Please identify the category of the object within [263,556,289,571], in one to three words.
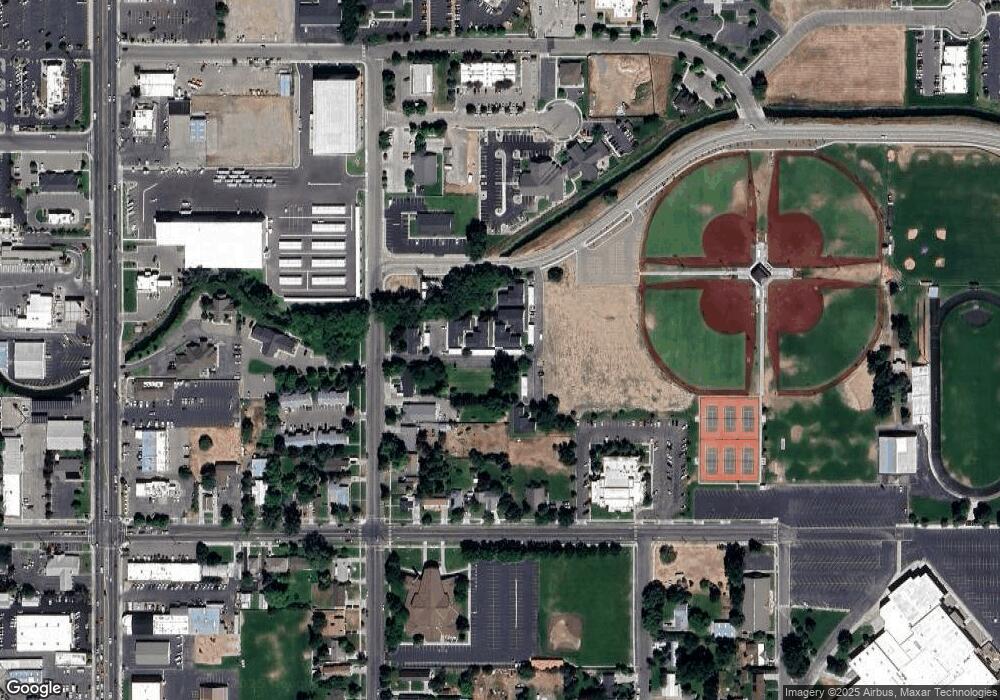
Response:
house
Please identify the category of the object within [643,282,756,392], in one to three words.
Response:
baseball field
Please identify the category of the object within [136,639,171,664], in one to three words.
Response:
building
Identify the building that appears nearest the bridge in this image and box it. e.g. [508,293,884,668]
[670,84,696,109]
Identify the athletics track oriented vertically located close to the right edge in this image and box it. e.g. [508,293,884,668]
[930,288,1000,498]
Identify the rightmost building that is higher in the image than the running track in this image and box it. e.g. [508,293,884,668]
[942,44,968,93]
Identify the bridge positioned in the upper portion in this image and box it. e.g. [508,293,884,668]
[735,96,767,121]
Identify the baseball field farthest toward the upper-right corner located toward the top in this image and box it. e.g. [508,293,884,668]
[769,154,881,266]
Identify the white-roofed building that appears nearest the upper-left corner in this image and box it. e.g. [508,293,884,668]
[47,62,69,105]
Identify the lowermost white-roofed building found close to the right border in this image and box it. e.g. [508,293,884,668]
[846,570,1000,700]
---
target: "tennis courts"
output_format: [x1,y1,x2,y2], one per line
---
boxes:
[707,447,718,474]
[724,406,735,432]
[742,406,754,432]
[742,447,754,474]
[725,447,735,474]
[706,406,718,432]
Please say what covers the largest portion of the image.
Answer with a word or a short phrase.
paved ground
